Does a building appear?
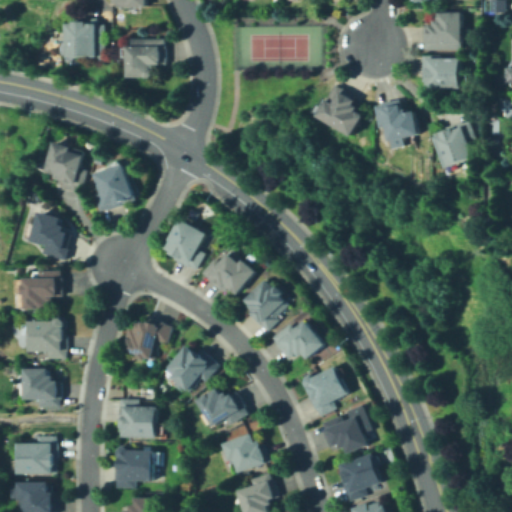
Yes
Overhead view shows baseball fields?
No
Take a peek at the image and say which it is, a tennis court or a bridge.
tennis court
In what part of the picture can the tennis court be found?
top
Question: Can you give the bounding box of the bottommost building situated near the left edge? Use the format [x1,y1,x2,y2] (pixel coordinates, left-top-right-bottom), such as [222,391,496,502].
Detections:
[10,482,52,512]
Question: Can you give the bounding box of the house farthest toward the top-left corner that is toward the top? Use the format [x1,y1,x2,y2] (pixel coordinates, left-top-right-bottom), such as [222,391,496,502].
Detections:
[60,20,97,60]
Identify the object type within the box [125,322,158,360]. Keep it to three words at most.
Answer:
house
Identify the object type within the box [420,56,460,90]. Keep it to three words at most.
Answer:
house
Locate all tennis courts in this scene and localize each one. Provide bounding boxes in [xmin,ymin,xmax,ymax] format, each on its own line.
[236,26,324,67]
